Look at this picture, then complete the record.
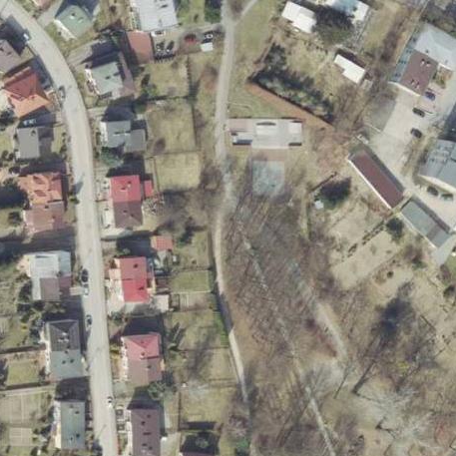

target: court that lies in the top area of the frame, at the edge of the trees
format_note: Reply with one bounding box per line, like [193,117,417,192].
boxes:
[251,160,286,198]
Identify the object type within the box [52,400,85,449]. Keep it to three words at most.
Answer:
house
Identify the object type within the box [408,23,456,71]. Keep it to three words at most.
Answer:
building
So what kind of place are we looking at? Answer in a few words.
residential area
